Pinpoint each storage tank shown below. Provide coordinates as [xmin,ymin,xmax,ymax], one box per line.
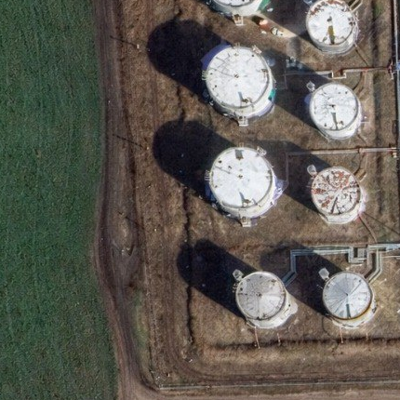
[202,42,274,136]
[307,165,374,226]
[210,0,269,34]
[307,81,365,140]
[233,270,295,347]
[319,269,378,340]
[303,0,362,55]
[206,142,279,236]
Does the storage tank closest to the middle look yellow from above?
No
